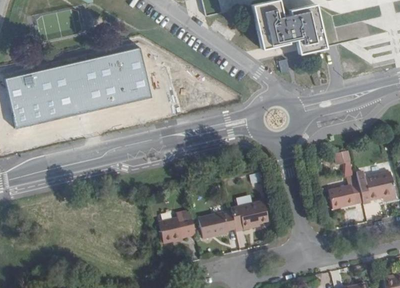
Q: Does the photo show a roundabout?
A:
Yes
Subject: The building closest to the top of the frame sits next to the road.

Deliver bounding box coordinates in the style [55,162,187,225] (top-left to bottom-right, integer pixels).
[250,0,328,55]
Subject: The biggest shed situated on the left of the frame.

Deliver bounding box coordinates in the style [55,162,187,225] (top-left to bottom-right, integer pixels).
[5,48,150,128]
